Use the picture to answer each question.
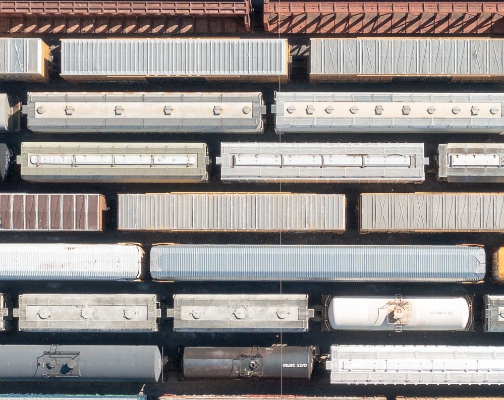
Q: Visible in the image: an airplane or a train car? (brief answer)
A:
train car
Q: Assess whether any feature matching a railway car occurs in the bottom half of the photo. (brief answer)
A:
Yes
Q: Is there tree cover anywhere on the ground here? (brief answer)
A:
No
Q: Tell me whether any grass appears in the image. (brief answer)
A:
No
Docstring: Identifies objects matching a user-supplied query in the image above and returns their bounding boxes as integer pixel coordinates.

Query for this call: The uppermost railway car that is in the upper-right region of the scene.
[259,0,504,34]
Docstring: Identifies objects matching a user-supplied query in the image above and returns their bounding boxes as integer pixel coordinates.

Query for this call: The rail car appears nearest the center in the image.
[115,192,354,235]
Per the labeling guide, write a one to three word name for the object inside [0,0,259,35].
rail car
